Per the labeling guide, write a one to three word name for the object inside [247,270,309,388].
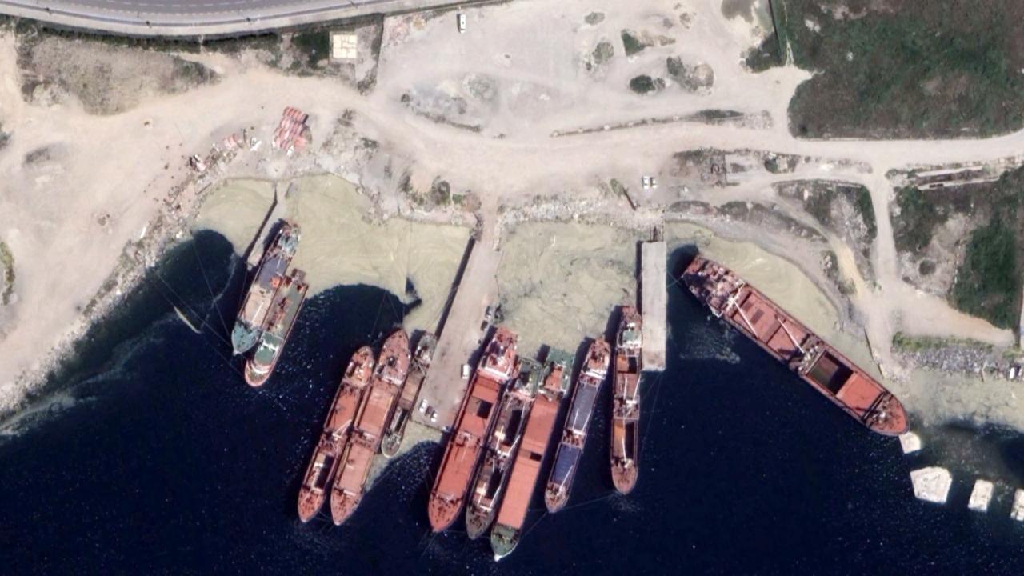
ship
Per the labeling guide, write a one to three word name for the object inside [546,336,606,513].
ship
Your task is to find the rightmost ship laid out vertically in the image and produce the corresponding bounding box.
[613,306,642,495]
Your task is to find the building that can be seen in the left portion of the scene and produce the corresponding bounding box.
[329,30,359,62]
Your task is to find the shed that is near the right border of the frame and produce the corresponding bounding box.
[917,165,1001,189]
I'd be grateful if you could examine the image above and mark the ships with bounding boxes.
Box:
[230,220,298,354]
[546,336,606,513]
[428,327,516,532]
[331,328,407,525]
[613,306,642,495]
[682,253,908,436]
[247,270,309,388]
[489,347,575,561]
[301,345,371,523]
[465,355,536,540]
[382,332,431,458]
